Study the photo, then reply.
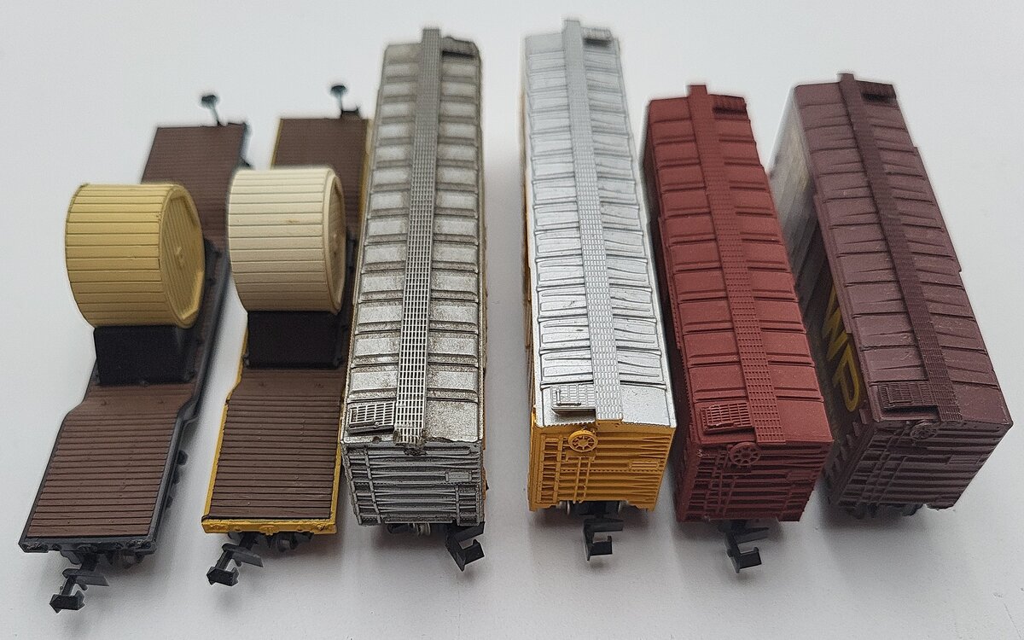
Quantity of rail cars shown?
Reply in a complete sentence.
I count 4 rail cars.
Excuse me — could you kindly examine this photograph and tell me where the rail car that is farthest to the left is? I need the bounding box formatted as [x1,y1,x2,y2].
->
[342,32,488,566]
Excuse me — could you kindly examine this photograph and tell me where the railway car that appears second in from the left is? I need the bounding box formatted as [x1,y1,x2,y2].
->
[520,24,675,559]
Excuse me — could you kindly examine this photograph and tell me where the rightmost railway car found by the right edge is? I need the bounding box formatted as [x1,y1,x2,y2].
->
[773,74,1012,516]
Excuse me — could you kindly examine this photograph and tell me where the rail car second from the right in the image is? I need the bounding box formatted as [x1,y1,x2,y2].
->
[640,86,833,572]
